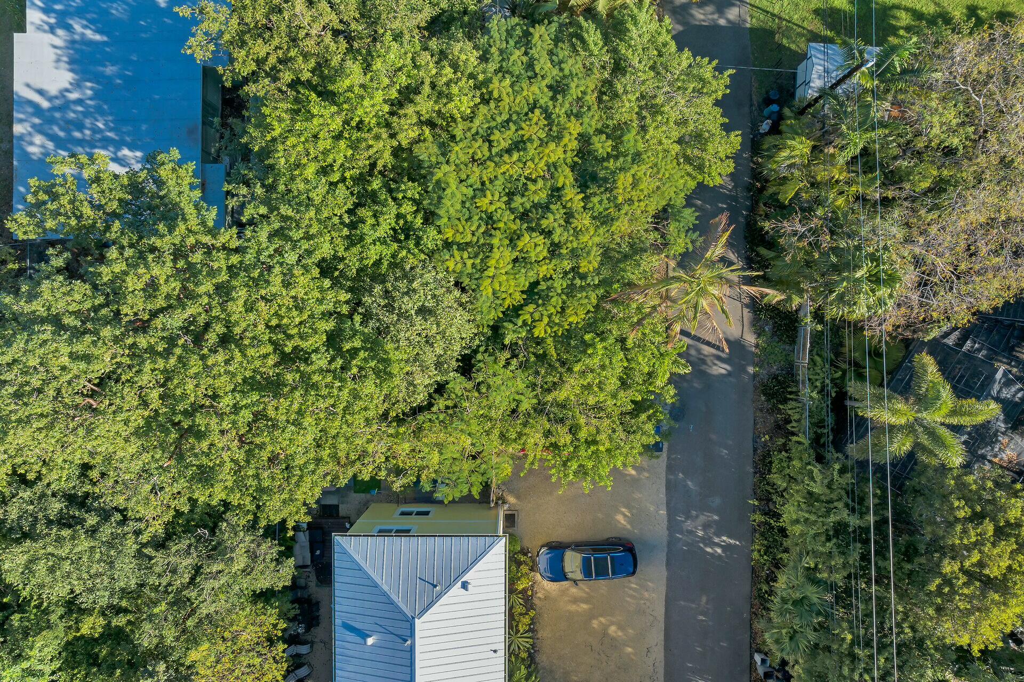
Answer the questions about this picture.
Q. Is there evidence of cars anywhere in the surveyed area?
Yes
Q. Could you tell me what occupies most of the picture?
trees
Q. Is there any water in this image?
No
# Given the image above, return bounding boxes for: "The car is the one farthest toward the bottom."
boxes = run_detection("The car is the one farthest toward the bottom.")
[534,536,638,588]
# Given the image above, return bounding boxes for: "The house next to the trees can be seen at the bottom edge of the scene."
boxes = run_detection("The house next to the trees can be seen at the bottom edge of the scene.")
[333,503,506,682]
